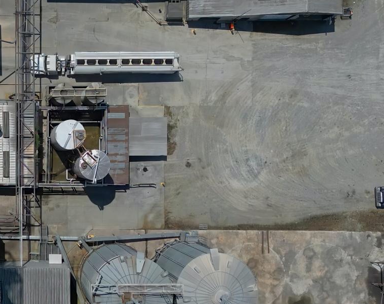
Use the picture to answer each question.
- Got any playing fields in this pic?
No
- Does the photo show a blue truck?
No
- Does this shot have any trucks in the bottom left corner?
No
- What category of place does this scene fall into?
industrial area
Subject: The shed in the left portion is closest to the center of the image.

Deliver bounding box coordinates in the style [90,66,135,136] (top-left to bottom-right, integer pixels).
[129,117,167,156]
